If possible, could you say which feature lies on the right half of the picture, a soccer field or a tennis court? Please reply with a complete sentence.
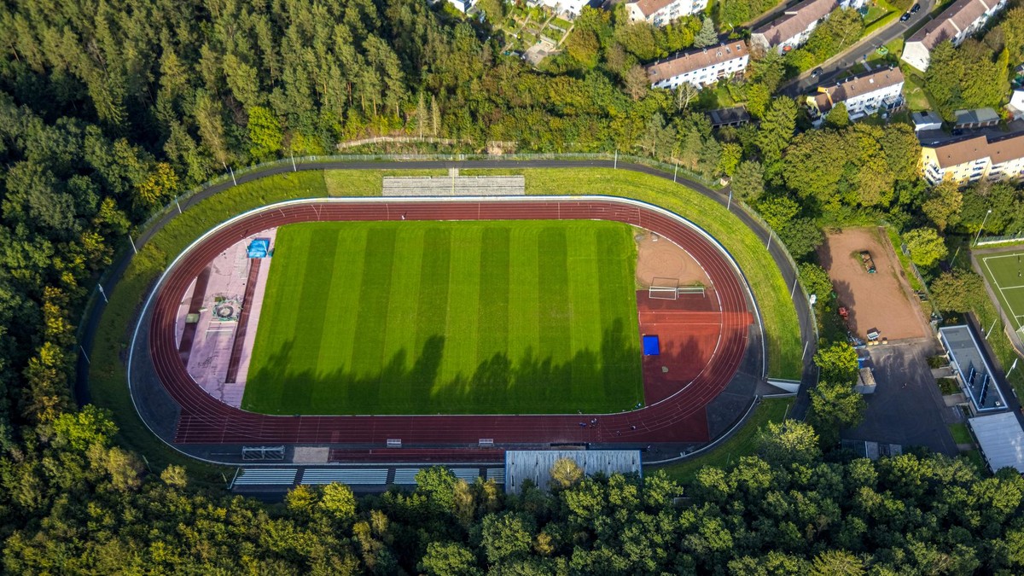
It is a soccer field that can be seen on the right half of the picture.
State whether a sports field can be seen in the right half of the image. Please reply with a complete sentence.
Yes, a sports field can be seen in the right half of the image.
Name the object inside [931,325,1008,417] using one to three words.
building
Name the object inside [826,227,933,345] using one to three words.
sports field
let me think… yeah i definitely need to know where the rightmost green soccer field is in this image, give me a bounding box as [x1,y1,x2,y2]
[974,248,1024,346]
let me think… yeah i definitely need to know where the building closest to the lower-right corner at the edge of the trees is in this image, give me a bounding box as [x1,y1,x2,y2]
[966,412,1024,479]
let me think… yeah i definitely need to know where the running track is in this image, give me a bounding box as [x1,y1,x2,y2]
[150,202,755,443]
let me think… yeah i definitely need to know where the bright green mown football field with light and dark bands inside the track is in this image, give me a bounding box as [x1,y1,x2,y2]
[242,219,644,415]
